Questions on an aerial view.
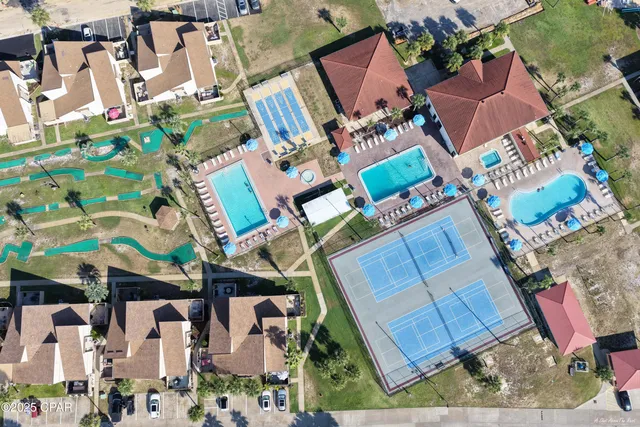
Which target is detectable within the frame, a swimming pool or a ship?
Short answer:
swimming pool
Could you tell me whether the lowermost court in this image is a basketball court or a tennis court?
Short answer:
tennis court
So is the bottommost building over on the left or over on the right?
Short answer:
right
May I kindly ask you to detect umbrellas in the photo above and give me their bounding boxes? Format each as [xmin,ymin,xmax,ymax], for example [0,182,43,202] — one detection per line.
[413,114,425,126]
[362,204,375,216]
[581,143,593,154]
[286,166,299,178]
[595,169,608,182]
[488,196,500,208]
[246,139,258,151]
[509,239,522,251]
[385,129,398,141]
[471,174,484,186]
[338,153,350,165]
[277,216,289,228]
[566,218,581,232]
[224,243,236,254]
[444,183,456,195]
[409,196,423,209]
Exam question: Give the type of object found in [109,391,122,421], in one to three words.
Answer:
vehicle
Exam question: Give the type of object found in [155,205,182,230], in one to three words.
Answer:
gazebo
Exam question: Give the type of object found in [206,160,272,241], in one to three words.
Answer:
swimming pool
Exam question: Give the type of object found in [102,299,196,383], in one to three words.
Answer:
house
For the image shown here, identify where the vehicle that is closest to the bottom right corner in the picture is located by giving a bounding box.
[616,391,631,411]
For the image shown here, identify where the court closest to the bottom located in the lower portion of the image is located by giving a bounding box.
[378,278,513,369]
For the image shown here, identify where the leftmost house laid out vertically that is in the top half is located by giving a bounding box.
[0,62,34,139]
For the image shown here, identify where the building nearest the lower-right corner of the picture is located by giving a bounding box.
[609,348,640,392]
